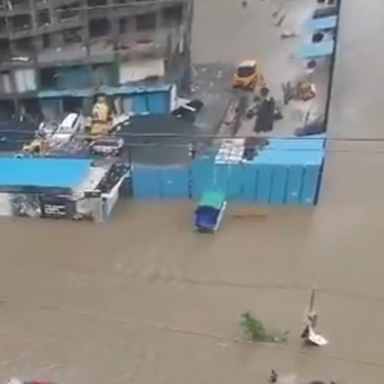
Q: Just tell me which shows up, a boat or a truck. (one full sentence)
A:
I can see a truck in this picture.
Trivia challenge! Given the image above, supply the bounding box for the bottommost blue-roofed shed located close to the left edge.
[0,157,92,191]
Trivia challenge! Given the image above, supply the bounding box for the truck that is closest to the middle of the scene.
[196,187,231,231]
